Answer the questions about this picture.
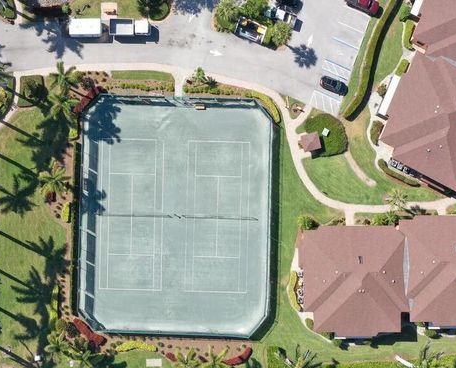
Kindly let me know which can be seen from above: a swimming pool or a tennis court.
tennis court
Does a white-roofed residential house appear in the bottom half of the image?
No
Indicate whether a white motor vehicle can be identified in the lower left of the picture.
No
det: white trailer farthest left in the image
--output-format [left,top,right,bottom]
[69,19,107,39]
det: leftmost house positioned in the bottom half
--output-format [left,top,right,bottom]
[300,226,410,339]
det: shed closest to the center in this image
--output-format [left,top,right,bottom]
[299,133,321,152]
